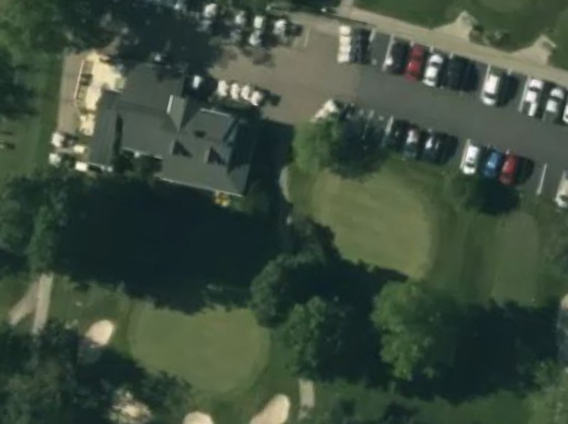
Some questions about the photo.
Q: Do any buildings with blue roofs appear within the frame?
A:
No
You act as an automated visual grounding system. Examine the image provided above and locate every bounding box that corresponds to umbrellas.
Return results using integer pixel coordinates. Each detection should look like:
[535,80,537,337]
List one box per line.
[215,193,229,206]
